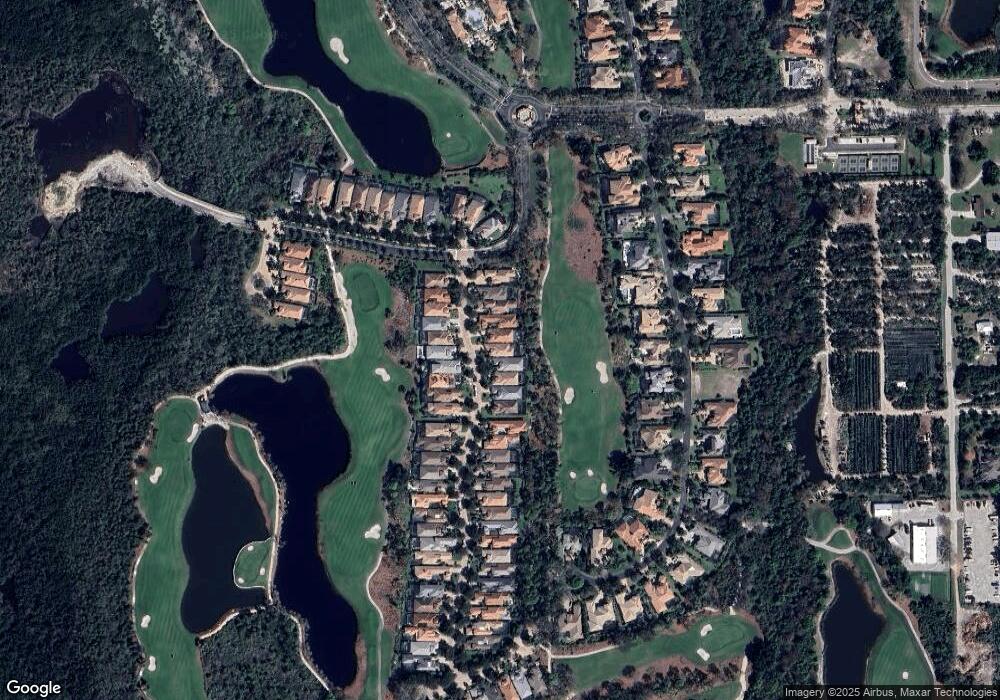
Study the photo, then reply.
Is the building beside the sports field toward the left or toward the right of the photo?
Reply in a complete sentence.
You can find the building beside the sports field on the right side of the picture.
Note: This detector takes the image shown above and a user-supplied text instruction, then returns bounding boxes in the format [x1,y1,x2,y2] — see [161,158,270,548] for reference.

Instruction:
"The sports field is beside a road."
[910,572,949,601]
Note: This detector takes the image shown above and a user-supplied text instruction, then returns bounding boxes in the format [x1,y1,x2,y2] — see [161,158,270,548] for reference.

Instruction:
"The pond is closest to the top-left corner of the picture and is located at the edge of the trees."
[31,73,147,176]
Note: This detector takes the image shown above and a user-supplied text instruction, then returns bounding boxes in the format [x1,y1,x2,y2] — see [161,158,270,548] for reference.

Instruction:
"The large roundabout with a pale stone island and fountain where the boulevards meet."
[504,94,546,136]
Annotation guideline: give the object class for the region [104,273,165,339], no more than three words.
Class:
pond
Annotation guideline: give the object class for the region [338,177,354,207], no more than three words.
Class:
house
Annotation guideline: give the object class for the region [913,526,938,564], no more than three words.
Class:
building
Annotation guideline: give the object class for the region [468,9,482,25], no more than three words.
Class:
swimming pool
